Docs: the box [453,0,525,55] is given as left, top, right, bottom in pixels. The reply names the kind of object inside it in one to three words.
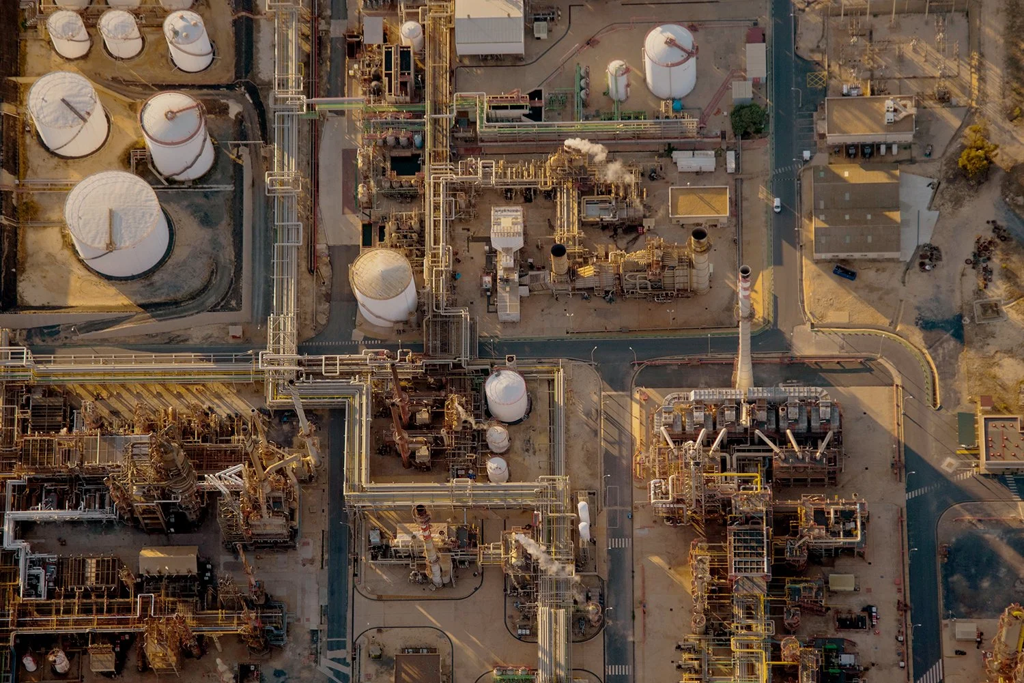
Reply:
building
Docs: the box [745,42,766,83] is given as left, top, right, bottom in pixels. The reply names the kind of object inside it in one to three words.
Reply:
shed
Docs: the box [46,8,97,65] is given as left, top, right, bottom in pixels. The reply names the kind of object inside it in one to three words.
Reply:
storage tank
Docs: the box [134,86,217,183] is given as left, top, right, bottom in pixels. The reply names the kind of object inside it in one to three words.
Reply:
storage tank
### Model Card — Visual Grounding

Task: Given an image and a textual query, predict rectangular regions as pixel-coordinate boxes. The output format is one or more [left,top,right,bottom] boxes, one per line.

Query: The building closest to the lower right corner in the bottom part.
[955,622,977,639]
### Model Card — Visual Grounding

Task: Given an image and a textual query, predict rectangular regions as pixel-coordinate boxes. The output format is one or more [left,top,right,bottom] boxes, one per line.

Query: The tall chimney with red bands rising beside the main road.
[735,263,758,390]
